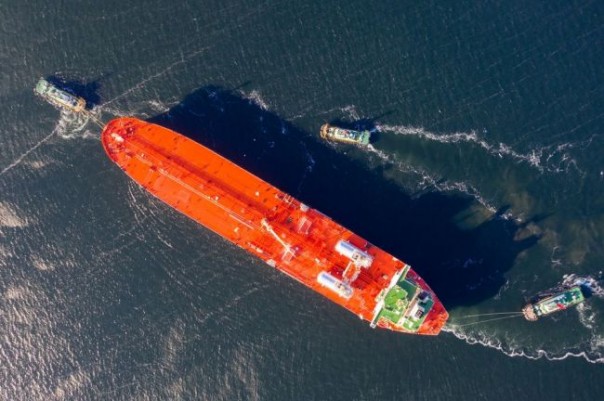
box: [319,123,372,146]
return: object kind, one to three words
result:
boat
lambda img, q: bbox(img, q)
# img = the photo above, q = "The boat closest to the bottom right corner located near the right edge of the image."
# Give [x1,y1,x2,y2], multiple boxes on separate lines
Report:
[520,284,589,322]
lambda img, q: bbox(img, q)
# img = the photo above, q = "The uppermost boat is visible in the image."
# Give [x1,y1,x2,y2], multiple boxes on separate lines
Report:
[34,78,88,113]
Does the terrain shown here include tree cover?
No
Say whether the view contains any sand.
No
